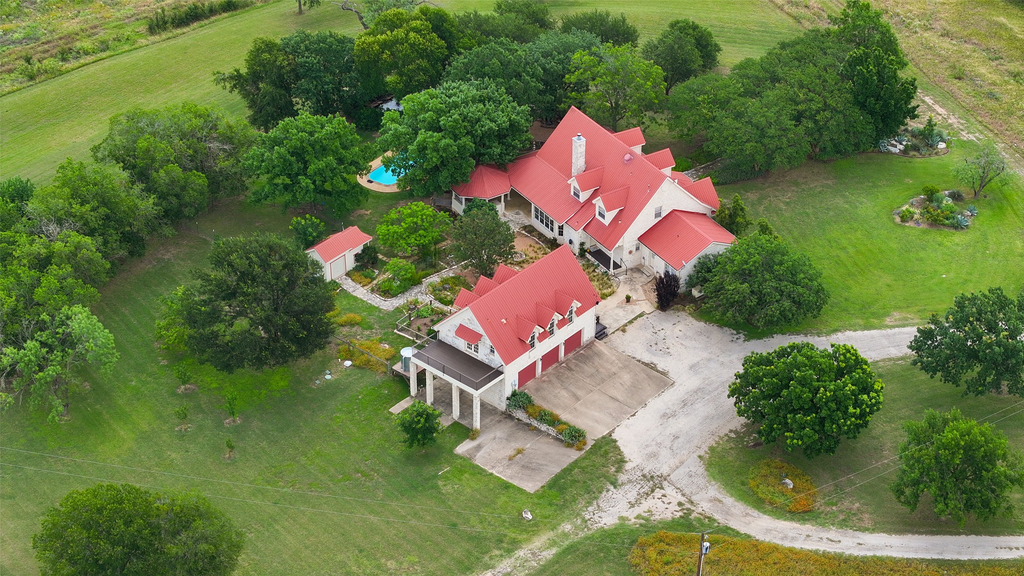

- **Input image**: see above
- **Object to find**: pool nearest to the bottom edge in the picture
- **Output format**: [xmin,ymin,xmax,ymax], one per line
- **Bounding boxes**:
[358,146,432,192]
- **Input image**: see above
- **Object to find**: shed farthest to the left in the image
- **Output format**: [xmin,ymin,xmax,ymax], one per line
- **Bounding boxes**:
[307,227,379,279]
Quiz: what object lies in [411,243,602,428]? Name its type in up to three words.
building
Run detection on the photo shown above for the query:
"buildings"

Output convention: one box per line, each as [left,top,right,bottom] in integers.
[307,227,379,279]
[411,243,602,428]
[448,106,744,293]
